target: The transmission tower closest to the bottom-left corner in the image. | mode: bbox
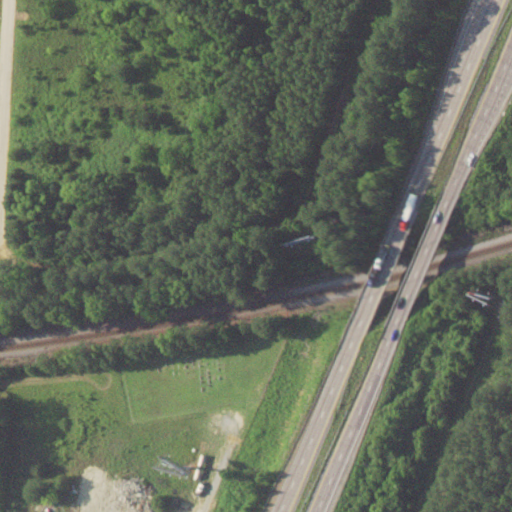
[152,456,189,480]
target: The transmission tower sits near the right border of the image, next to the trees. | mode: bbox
[466,291,496,306]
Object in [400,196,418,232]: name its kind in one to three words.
vehicle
